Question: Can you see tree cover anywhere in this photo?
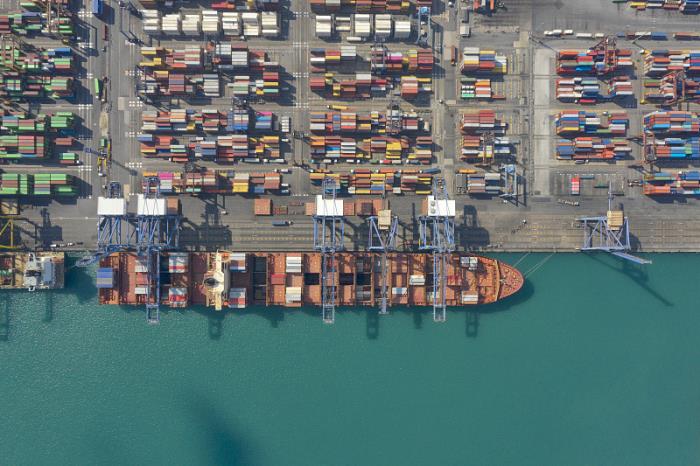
No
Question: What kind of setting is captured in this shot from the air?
port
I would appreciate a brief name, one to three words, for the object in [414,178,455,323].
container crane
